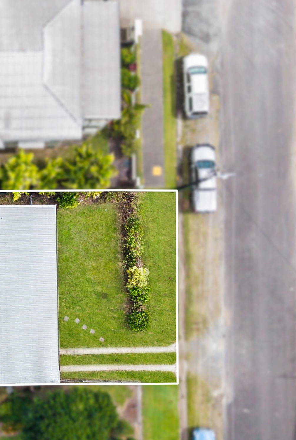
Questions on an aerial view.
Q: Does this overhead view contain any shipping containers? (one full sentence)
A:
No, no shipping container is visible in the view.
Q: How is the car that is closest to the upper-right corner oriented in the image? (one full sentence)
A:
In this picture, the car that is closest to the upper-right corner lies vertically.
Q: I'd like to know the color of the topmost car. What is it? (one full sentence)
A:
The topmost car looks white in the image.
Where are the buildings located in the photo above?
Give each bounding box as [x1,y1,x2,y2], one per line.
[0,206,61,386]
[0,0,120,154]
